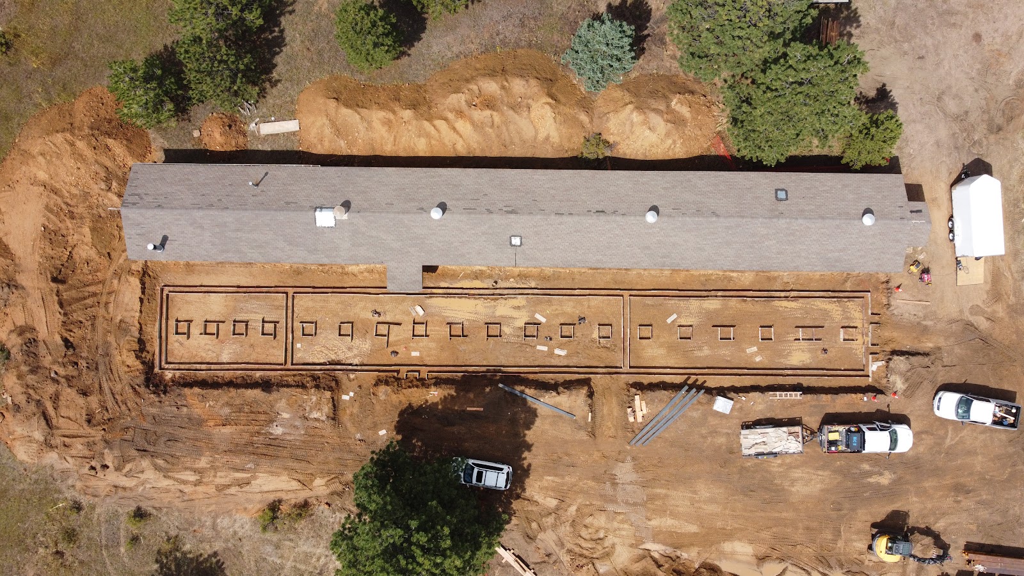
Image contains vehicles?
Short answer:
Yes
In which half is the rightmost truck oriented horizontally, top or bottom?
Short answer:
bottom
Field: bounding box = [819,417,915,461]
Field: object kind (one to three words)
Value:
truck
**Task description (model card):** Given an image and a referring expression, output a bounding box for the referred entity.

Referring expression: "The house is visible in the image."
[109,162,934,293]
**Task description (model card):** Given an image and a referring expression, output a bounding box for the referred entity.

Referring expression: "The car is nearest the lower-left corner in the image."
[448,454,515,492]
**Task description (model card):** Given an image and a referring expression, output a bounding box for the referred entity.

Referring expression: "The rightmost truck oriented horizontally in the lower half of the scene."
[928,391,1020,434]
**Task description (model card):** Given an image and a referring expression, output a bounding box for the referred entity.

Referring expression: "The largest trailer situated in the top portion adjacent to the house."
[945,166,1004,285]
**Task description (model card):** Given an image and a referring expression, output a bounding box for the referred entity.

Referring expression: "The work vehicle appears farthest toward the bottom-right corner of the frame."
[864,528,953,565]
